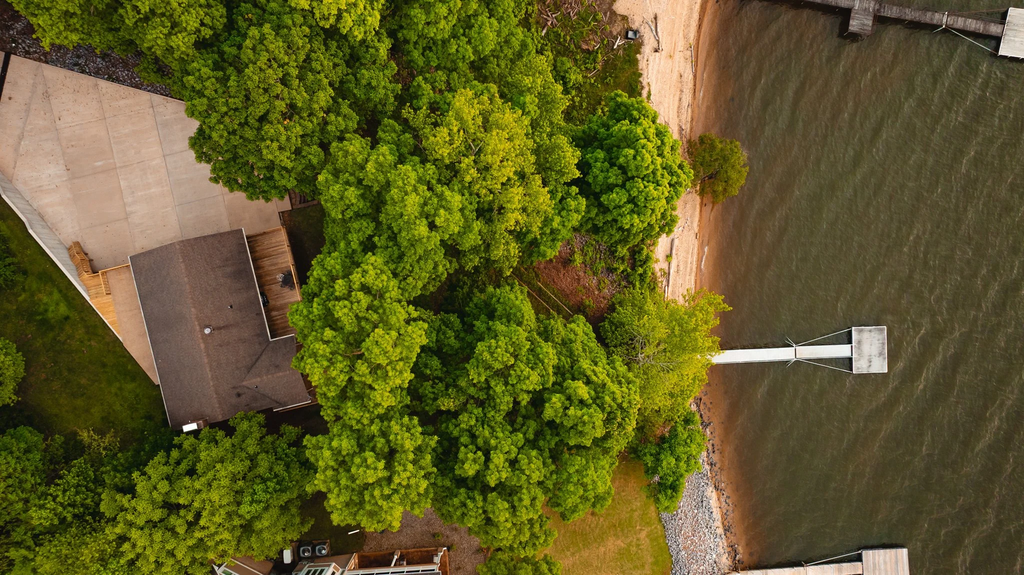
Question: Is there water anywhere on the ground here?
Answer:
Yes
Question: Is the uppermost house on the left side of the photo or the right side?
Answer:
left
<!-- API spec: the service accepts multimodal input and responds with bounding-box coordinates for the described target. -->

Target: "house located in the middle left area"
[128,229,312,433]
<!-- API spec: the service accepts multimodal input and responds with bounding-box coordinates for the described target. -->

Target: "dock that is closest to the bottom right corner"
[733,547,910,575]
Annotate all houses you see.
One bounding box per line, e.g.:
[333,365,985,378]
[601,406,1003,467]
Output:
[128,229,312,433]
[193,539,450,575]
